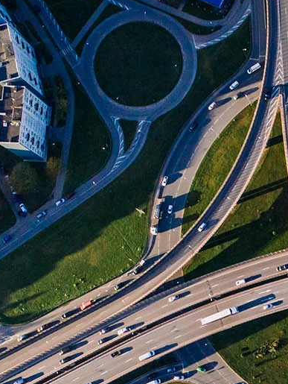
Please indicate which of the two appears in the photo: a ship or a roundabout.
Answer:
roundabout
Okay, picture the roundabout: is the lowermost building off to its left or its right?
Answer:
on its left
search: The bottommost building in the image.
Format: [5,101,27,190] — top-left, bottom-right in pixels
[0,84,50,160]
